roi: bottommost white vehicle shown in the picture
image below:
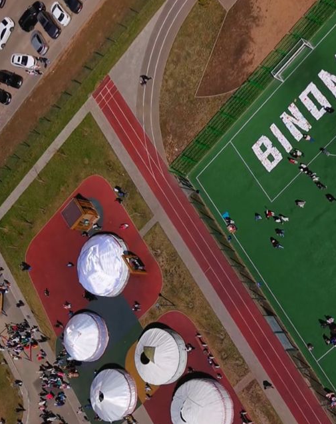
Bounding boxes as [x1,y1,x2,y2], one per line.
[11,53,35,70]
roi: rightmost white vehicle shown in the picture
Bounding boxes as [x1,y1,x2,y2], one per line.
[50,0,72,28]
